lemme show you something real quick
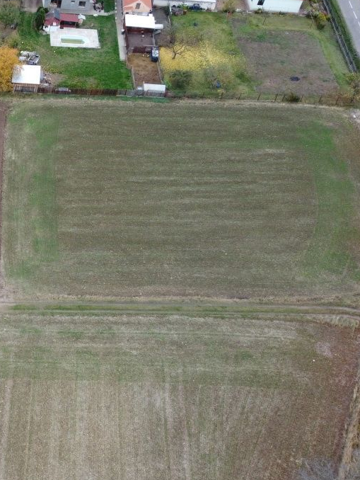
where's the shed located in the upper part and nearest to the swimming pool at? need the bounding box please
[44,12,80,34]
